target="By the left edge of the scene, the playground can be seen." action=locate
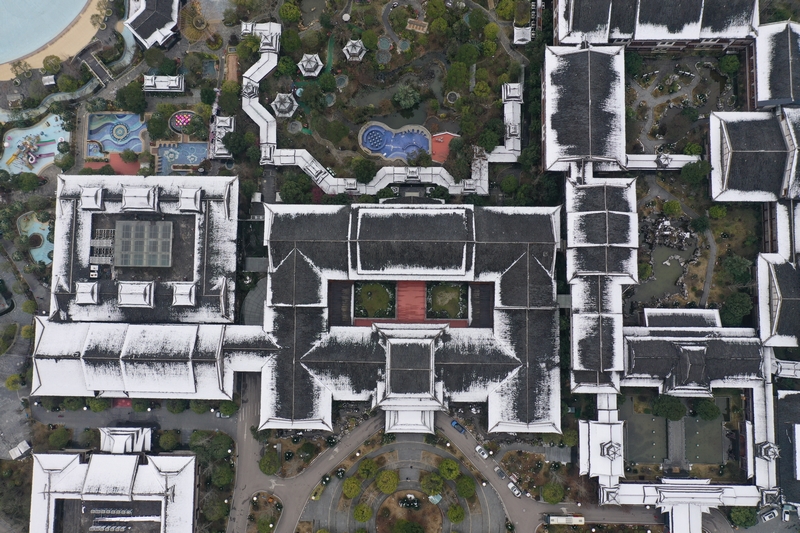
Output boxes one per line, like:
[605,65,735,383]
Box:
[4,131,55,170]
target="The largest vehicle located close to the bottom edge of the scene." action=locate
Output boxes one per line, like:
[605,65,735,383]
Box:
[544,510,584,524]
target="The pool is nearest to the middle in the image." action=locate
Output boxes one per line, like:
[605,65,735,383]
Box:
[356,119,434,164]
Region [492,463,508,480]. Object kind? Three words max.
car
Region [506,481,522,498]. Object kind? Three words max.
car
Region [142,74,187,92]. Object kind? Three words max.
building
